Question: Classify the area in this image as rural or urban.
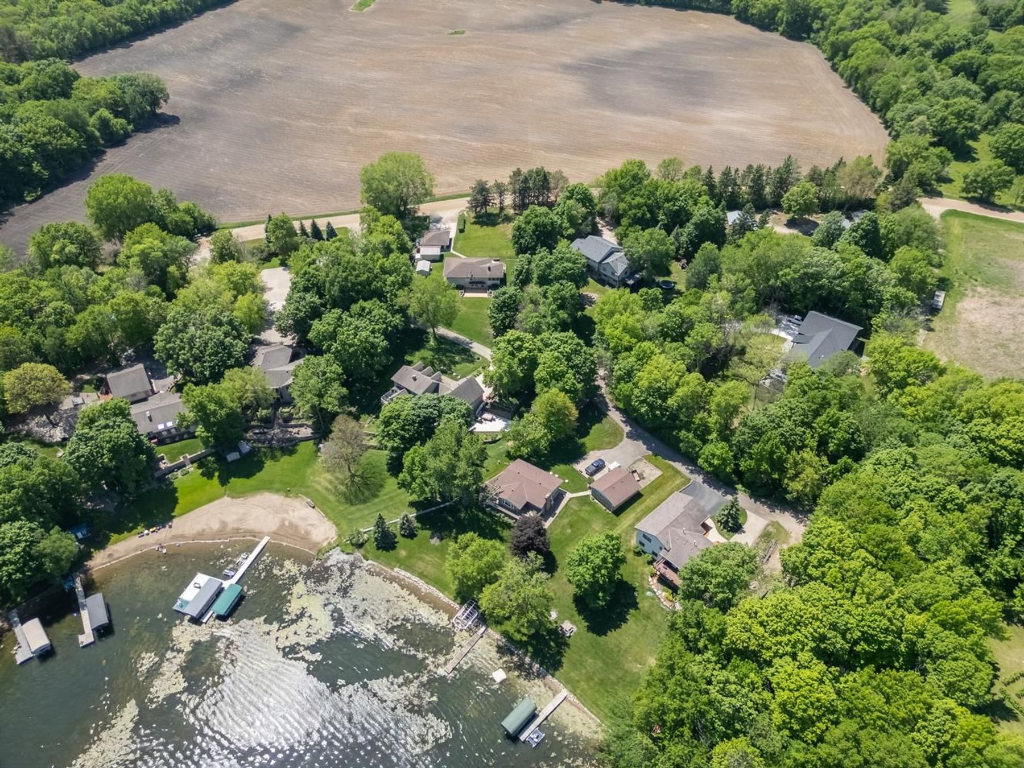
rural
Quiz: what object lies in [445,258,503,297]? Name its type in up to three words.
house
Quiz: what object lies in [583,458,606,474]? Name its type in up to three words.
vehicle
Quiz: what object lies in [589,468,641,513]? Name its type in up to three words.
building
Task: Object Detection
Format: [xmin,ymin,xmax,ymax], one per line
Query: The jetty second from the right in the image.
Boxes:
[443,626,486,676]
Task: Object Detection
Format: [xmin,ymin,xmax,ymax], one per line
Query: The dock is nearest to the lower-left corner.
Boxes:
[5,606,38,668]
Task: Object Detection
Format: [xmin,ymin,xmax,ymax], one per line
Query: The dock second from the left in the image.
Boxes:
[73,574,96,650]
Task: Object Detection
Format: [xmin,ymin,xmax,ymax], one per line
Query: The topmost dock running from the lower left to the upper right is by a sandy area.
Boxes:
[199,537,271,623]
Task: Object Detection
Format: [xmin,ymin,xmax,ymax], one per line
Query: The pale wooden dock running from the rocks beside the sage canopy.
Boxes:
[518,689,569,743]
